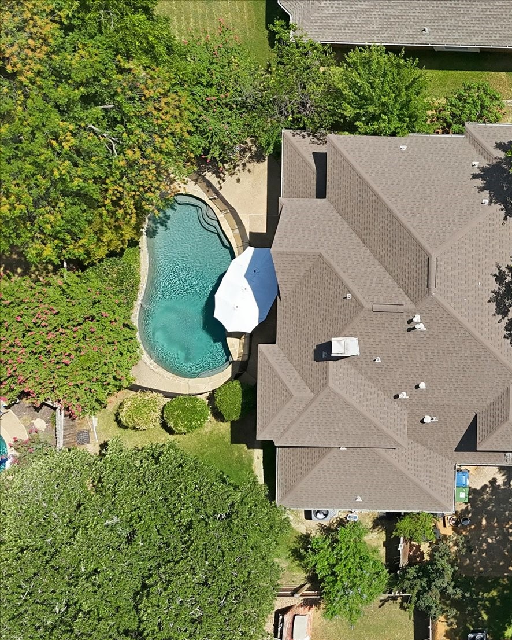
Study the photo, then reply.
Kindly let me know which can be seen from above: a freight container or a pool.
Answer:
pool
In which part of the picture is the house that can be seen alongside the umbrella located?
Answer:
right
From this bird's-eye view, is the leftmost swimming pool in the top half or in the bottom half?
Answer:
bottom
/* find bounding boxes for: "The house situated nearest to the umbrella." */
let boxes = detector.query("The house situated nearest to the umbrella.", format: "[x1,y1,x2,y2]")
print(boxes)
[254,122,512,514]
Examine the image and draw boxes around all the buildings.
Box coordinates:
[280,0,512,60]
[254,122,512,514]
